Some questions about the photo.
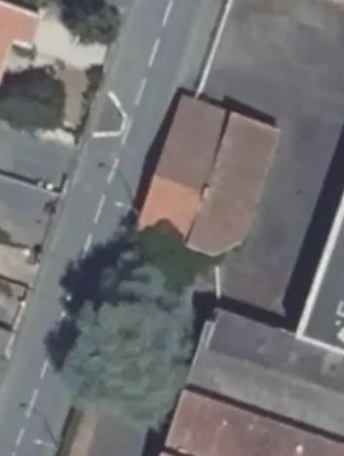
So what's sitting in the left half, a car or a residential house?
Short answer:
residential house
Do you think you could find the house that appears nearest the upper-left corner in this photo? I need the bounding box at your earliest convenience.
[0,2,40,84]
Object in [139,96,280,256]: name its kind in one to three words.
house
